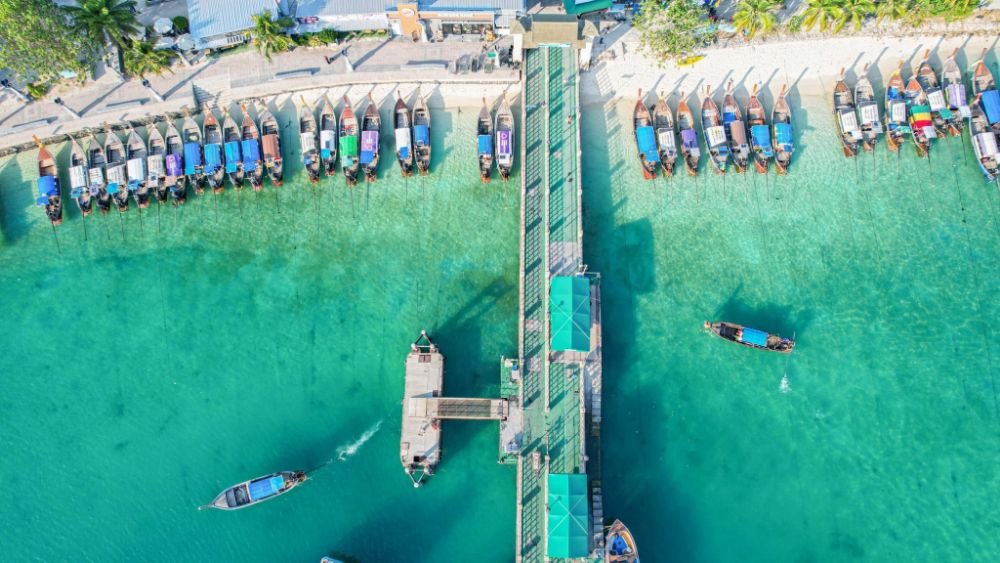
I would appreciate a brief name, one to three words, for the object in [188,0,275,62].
building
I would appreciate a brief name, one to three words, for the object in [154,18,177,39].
umbrella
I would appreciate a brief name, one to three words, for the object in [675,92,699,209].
boat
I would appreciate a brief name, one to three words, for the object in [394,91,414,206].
boat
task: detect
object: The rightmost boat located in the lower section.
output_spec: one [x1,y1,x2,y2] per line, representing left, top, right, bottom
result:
[704,325,793,385]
